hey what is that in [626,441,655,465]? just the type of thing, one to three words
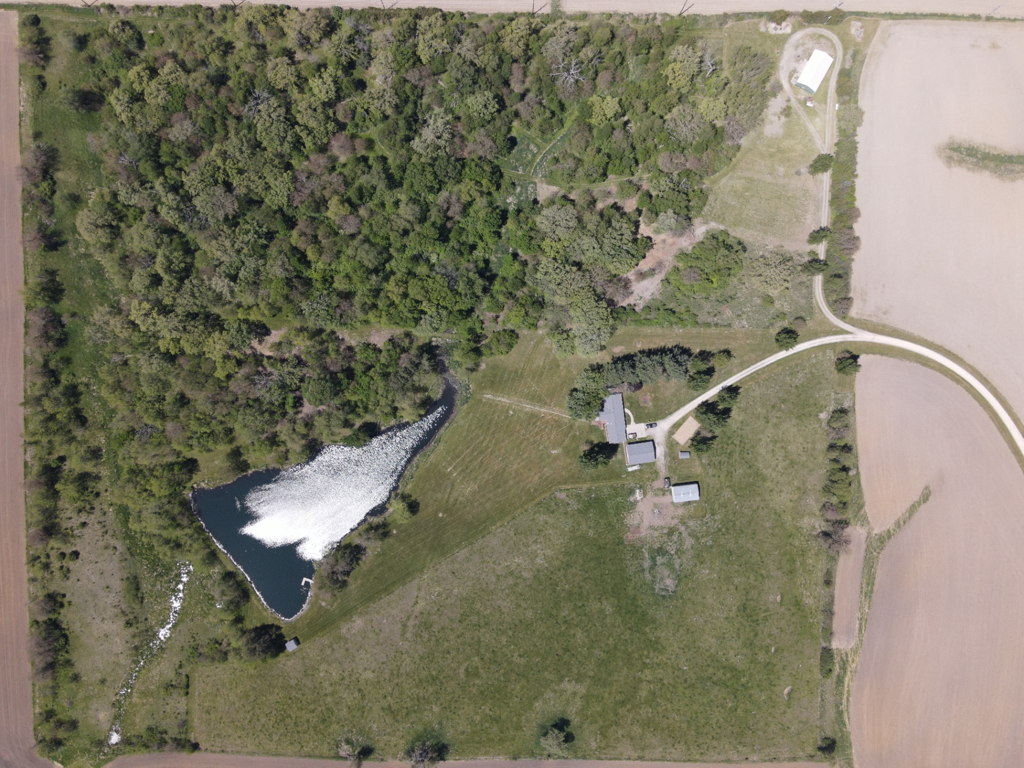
building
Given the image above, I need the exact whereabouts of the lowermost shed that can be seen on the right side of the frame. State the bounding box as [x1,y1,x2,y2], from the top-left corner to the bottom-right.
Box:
[671,484,699,502]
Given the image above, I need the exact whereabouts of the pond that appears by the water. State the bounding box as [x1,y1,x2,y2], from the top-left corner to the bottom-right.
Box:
[194,343,456,619]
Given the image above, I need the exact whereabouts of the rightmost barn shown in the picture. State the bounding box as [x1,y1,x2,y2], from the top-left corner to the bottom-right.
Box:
[795,49,834,94]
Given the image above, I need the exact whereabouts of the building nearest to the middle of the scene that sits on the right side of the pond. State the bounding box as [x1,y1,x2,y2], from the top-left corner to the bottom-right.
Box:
[598,394,627,443]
